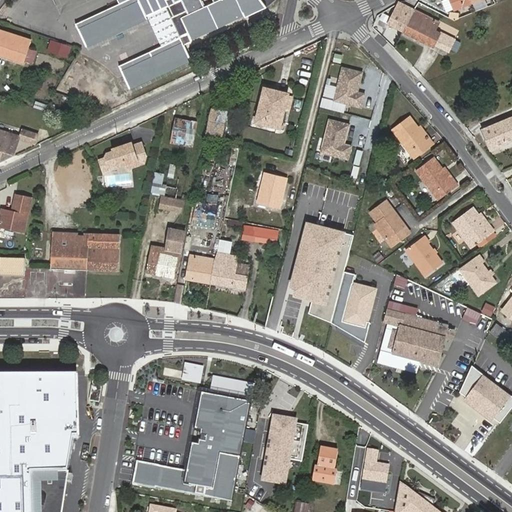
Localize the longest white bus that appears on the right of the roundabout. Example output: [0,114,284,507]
[272,342,316,368]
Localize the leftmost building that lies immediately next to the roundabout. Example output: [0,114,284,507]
[0,371,78,512]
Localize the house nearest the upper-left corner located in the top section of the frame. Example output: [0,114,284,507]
[0,29,37,64]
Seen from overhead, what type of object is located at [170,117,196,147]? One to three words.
shed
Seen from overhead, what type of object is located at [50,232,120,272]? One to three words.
house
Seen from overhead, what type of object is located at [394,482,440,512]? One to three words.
building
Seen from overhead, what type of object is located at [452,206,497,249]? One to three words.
house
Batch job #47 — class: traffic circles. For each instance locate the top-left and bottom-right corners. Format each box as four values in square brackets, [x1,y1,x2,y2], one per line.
[78,302,152,380]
